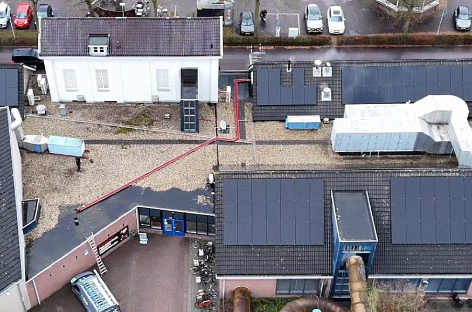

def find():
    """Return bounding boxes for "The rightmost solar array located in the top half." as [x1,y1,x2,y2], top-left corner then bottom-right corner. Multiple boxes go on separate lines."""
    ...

[343,65,472,104]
